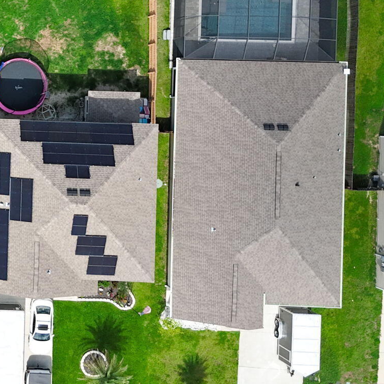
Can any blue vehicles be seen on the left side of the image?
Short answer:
No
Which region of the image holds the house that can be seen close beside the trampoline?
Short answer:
left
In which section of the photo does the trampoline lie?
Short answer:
top left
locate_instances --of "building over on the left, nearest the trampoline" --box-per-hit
[0,91,159,301]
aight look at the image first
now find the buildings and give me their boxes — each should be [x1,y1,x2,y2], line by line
[0,91,159,301]
[375,137,384,291]
[159,57,351,328]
